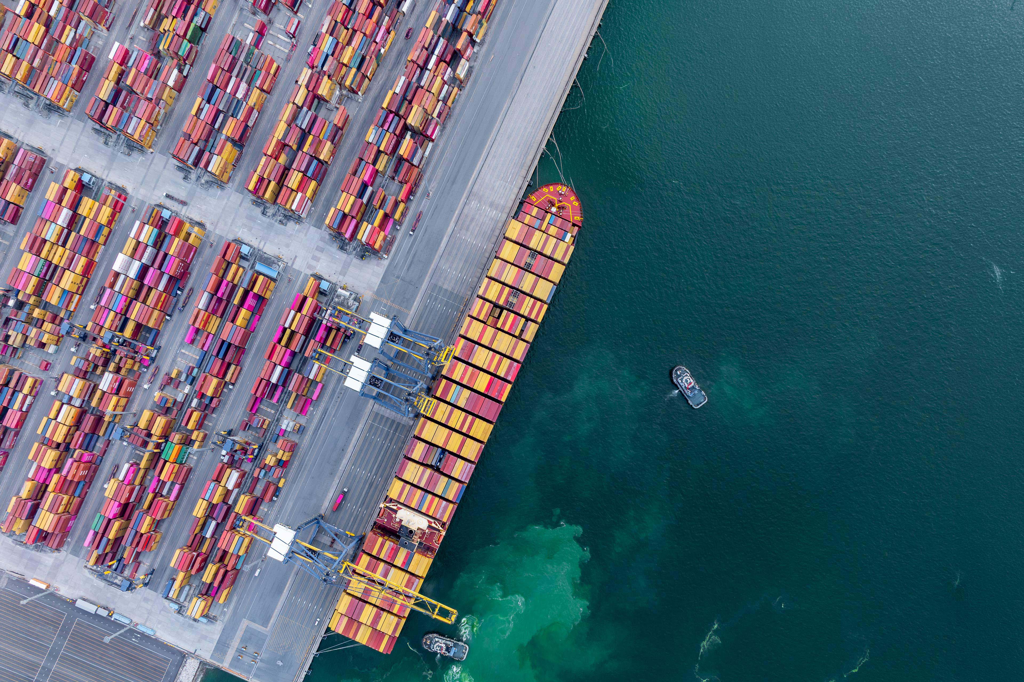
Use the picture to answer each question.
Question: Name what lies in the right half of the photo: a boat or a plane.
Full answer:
Looking in the right half of the photo, you will find a boat.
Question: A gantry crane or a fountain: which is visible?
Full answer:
The image shows a gantry crane.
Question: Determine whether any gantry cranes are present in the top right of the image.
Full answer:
No, looking in the top right of the image, there is no gantry crane.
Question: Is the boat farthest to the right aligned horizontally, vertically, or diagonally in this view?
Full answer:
The boat farthest to the right has been laid out diagonally relative to the frame.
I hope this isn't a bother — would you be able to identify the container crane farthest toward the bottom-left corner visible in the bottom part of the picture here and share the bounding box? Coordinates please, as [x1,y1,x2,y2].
[96,556,152,593]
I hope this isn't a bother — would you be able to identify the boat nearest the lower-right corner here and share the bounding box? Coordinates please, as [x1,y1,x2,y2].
[672,367,710,409]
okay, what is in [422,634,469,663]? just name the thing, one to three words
boat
